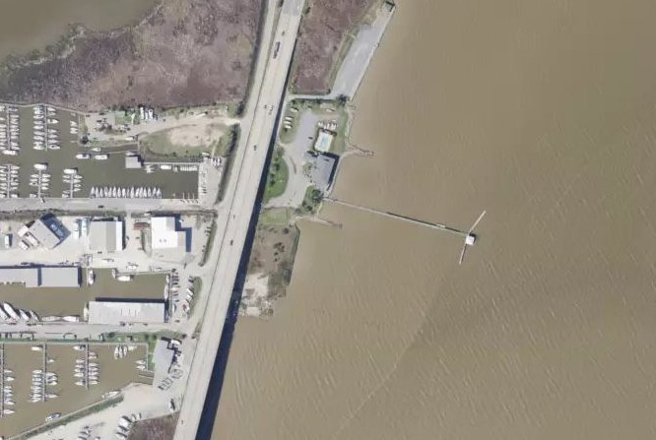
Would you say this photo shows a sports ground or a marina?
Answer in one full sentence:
This image shows a marina.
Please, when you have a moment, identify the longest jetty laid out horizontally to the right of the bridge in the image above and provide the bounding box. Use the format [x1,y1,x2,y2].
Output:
[323,197,485,264]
